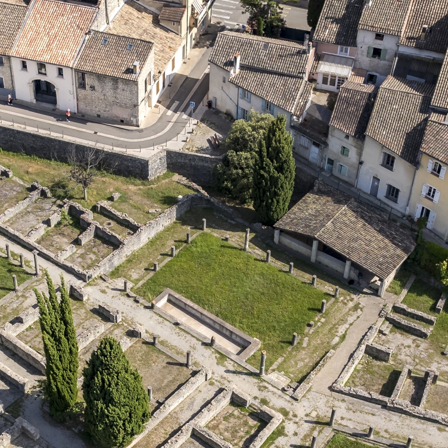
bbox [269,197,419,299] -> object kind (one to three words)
shed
